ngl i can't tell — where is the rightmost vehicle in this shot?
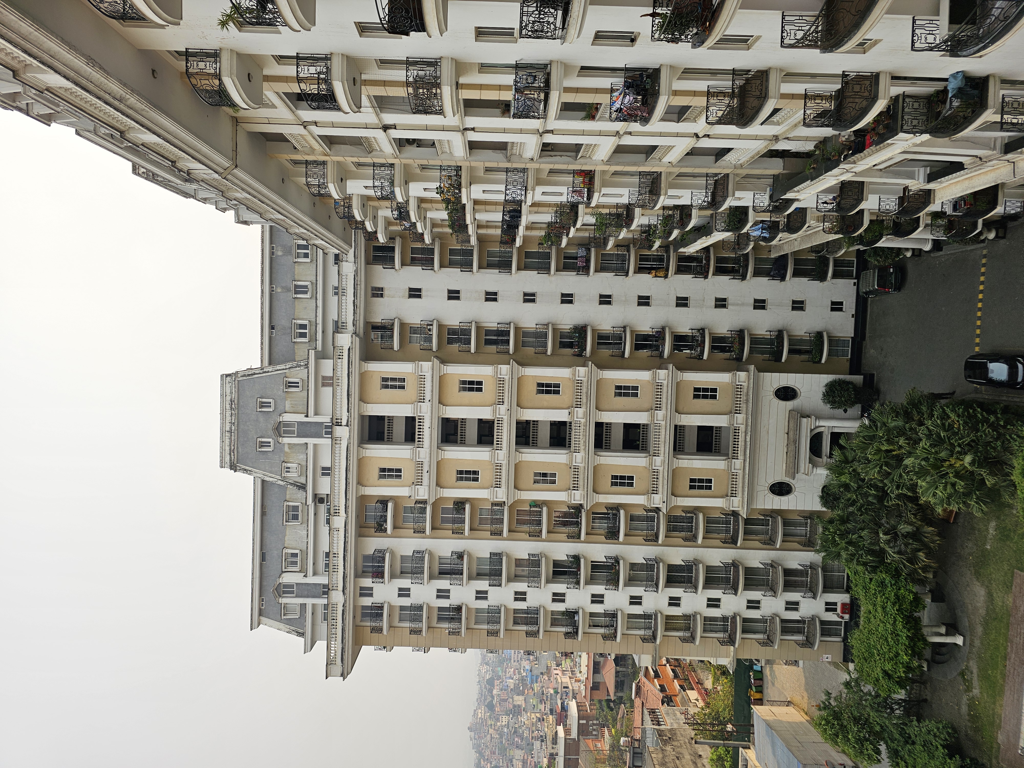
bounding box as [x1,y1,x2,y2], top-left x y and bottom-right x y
[964,352,1024,392]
